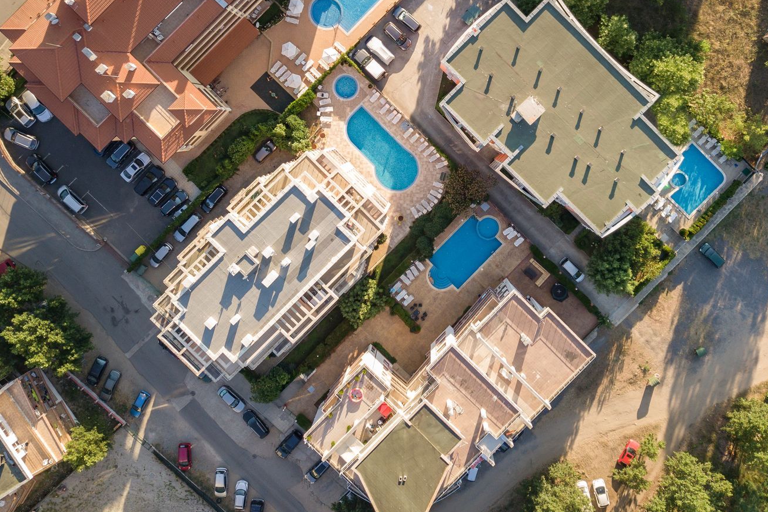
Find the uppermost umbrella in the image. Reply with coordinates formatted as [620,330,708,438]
[286,0,306,17]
